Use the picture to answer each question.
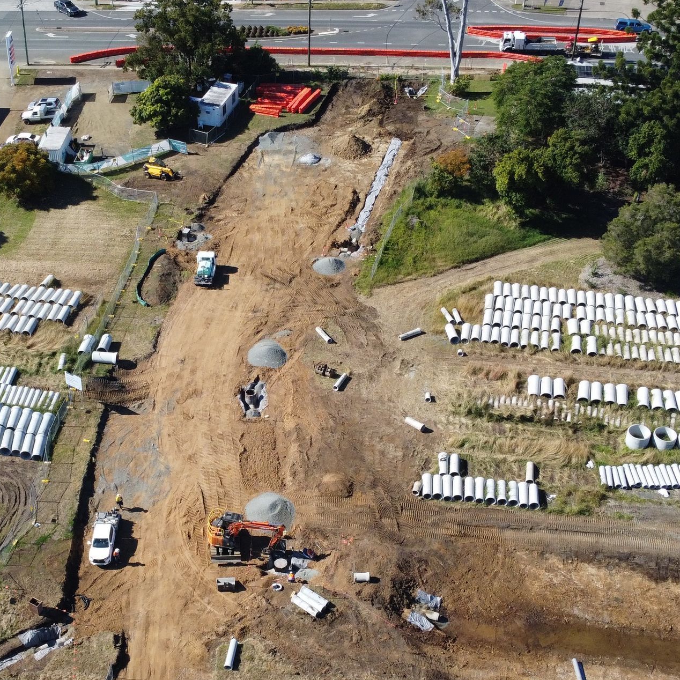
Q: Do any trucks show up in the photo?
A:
Yes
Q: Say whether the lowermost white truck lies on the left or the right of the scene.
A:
left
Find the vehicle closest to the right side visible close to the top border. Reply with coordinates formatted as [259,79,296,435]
[616,15,653,34]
